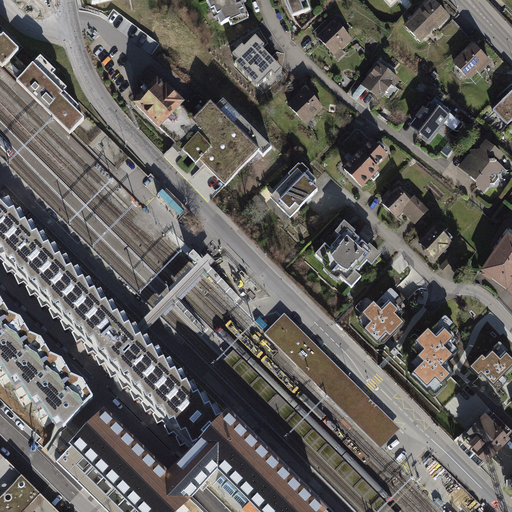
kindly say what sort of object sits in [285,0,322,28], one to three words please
house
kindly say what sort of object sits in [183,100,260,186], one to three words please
building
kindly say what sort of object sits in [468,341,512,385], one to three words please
building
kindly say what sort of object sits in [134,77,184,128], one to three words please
house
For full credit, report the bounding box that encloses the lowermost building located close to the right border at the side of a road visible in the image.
[452,412,512,468]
